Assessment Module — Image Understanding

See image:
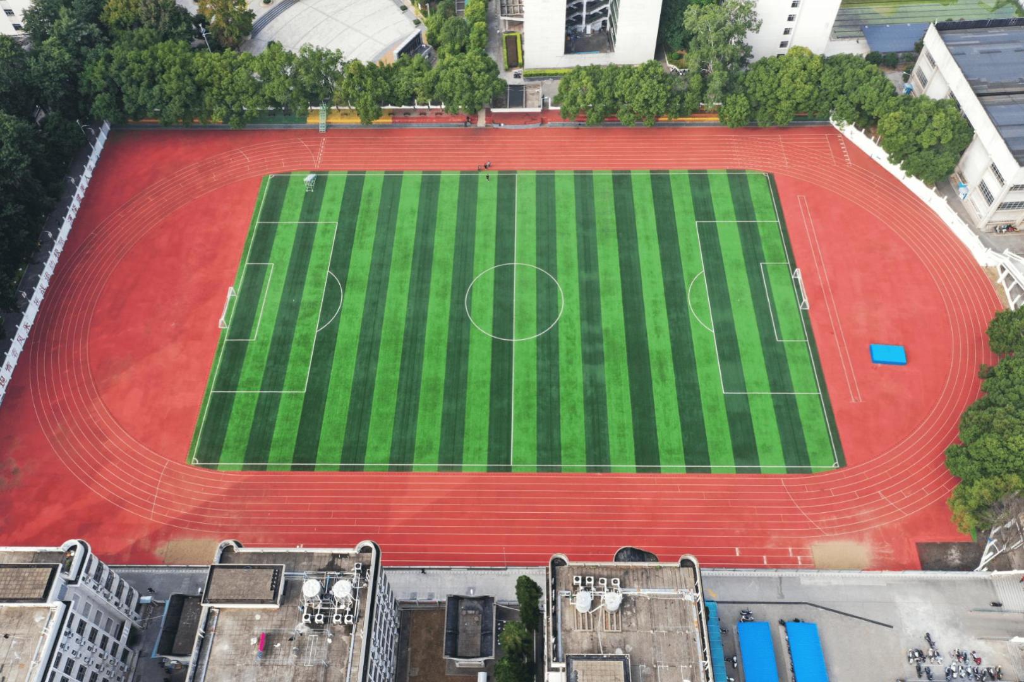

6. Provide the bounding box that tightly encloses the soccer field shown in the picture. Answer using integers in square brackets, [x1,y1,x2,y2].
[184,169,847,474]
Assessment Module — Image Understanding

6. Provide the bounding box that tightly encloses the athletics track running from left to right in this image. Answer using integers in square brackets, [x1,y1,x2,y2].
[0,127,1010,569]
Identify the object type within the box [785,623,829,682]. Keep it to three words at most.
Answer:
shed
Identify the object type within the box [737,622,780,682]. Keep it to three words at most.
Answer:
shed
